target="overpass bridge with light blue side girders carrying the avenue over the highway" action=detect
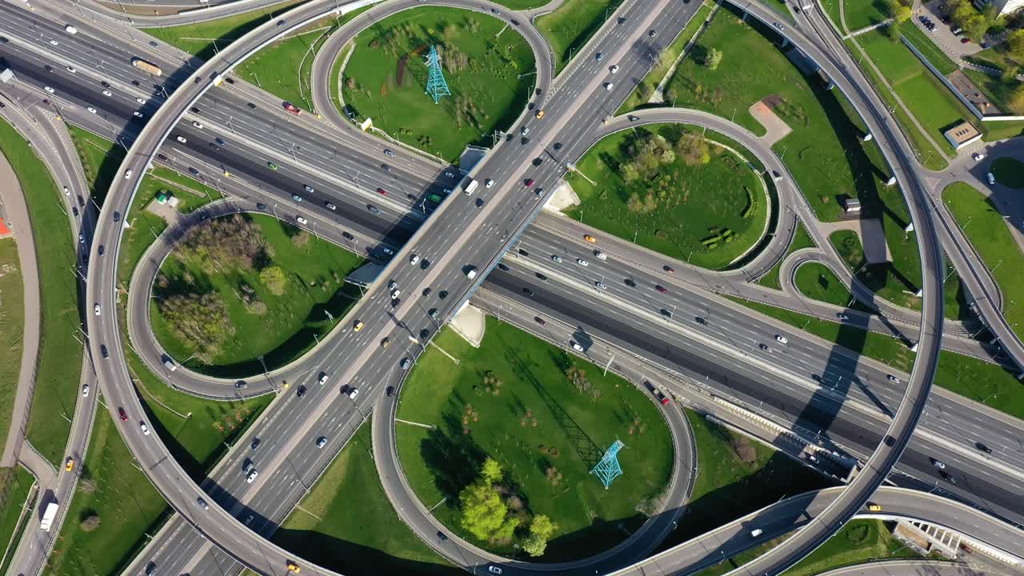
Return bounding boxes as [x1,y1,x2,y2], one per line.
[385,149,559,320]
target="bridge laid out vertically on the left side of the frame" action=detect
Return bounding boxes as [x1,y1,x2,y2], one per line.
[87,0,372,576]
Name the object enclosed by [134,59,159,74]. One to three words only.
vehicle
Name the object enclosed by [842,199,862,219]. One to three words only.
shed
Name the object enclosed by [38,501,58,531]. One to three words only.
vehicle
